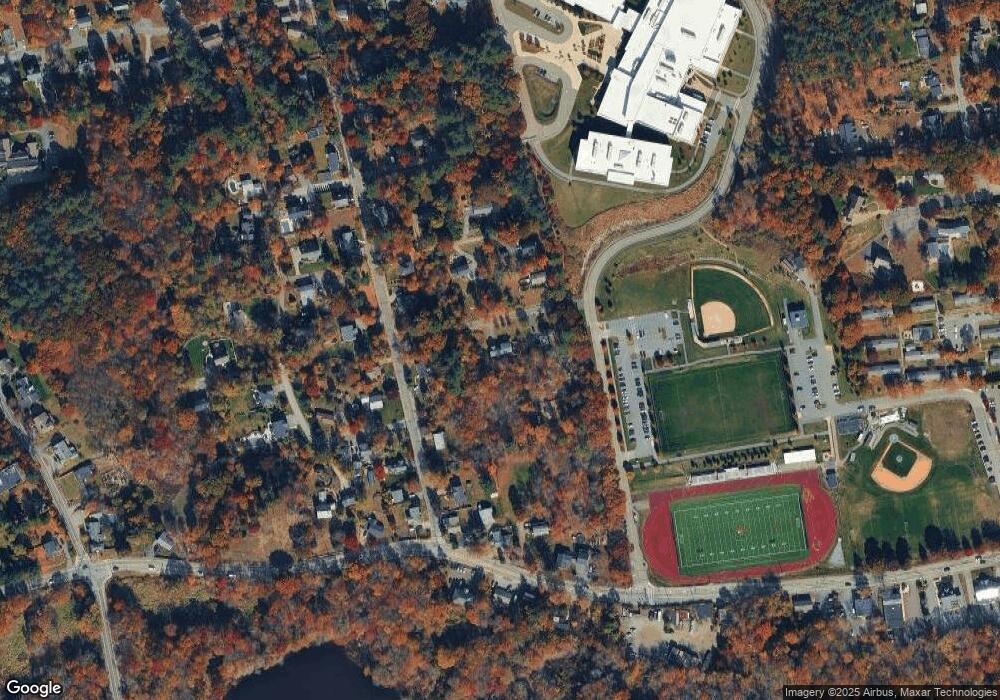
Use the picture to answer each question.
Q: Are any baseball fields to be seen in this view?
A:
Yes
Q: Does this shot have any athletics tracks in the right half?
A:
Yes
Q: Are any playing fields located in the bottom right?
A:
Yes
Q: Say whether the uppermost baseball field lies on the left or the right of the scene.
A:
right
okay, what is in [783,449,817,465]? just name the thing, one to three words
shed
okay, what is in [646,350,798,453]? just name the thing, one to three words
sports field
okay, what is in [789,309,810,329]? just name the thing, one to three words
building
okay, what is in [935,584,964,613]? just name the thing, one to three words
house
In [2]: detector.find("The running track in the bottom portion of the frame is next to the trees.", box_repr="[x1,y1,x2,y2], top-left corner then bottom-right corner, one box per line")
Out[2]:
[642,468,837,583]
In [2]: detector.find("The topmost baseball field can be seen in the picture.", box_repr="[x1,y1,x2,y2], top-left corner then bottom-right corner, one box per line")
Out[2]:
[691,265,774,345]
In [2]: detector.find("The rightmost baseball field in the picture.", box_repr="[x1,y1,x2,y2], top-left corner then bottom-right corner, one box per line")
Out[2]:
[840,422,1000,552]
